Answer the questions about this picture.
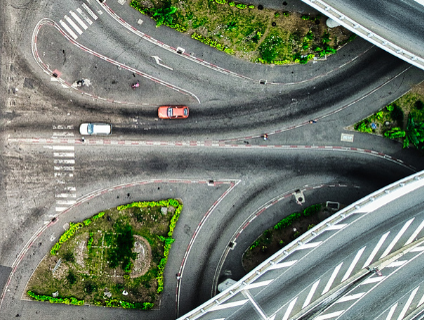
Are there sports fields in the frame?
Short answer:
No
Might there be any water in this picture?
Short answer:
No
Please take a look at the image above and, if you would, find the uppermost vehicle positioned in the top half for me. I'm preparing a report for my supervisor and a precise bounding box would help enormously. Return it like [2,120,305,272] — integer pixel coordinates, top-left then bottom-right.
[157,103,190,119]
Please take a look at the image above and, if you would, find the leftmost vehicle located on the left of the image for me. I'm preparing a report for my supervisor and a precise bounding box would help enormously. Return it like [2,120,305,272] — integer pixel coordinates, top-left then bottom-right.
[78,121,111,136]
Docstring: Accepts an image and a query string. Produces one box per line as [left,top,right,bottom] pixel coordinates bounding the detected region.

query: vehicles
[157,103,190,119]
[78,121,111,136]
